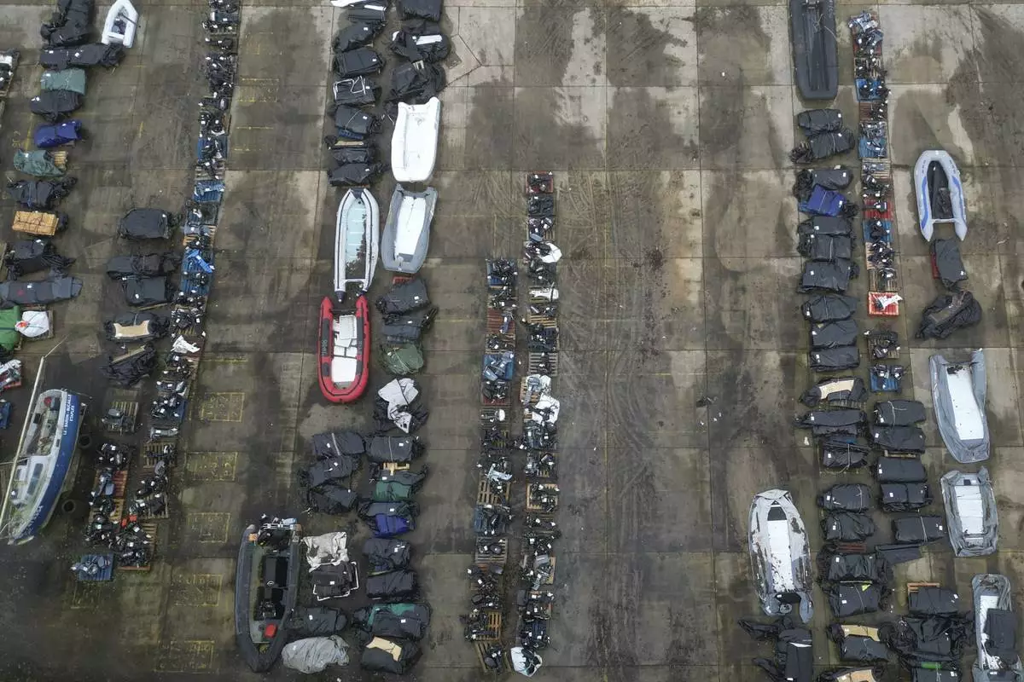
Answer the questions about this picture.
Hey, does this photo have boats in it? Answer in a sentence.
Yes, there's a boat here.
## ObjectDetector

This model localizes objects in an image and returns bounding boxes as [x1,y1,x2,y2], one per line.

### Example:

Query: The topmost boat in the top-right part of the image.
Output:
[790,0,838,99]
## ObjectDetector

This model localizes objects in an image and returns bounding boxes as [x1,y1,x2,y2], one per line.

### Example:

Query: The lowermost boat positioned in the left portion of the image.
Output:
[361,638,426,678]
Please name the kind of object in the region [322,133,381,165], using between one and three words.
boat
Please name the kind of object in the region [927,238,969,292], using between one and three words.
boat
